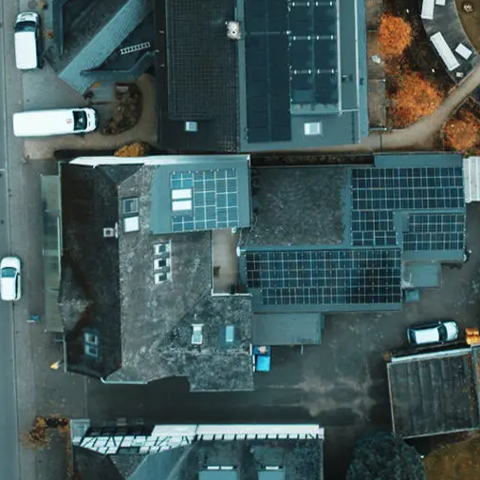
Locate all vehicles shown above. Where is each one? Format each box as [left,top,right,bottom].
[406,319,459,347]
[10,105,99,135]
[0,256,23,303]
[12,12,43,70]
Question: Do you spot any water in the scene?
No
